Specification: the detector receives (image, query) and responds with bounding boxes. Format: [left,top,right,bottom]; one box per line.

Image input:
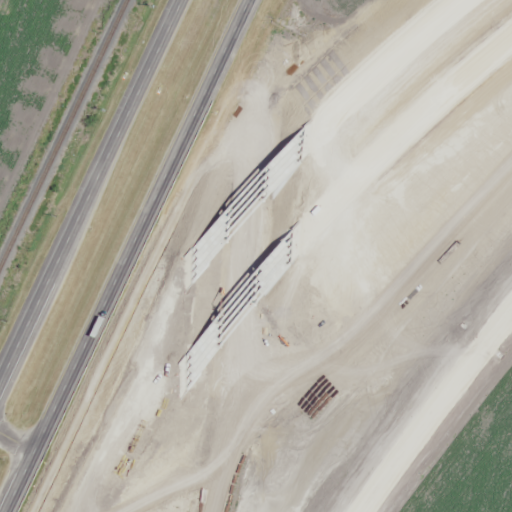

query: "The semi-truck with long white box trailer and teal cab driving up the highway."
[90,308,106,338]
